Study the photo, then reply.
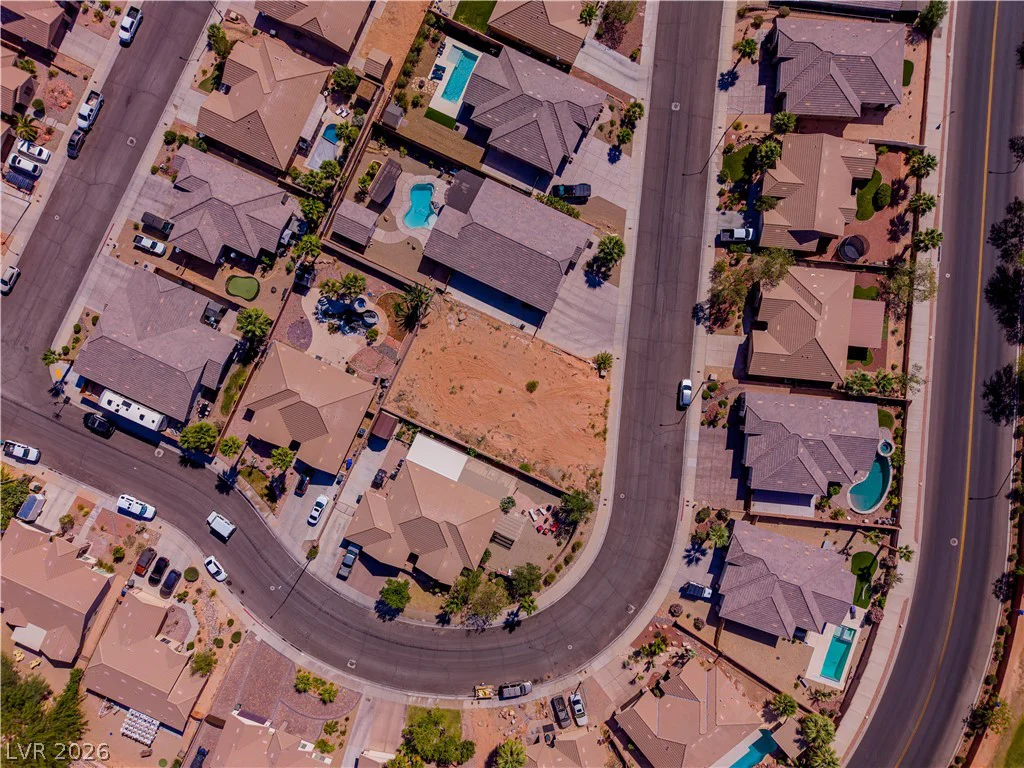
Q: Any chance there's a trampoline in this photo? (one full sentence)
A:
Yes, a trampoline appears in the view.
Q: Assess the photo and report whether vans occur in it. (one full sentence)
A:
Yes, this view includes a van.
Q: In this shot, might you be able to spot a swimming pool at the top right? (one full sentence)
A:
No, no swimming pool is visible at the top right.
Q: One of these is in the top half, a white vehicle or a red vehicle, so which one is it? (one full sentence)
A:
What appears in the top half is a white vehicle.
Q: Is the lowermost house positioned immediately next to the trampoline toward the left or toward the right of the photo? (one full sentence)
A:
The lowermost house positioned immediately next to the trampoline is on the right side of the image.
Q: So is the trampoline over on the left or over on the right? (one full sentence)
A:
The trampoline appears in the right half of the scene.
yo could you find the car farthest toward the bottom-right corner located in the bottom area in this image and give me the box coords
[683,582,713,599]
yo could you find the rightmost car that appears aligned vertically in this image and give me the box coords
[677,379,690,408]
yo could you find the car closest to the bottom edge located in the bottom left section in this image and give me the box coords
[189,746,209,768]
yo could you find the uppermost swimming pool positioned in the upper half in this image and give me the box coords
[439,42,481,106]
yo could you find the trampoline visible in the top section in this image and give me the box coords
[837,232,869,259]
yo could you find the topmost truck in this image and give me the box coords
[119,5,143,46]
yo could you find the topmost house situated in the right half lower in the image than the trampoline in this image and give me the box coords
[746,266,856,384]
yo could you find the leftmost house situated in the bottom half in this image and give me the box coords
[0,518,113,647]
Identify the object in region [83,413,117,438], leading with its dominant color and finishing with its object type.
black car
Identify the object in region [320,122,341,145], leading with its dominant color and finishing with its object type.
blue swimming pool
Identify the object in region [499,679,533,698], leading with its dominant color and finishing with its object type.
gray vehicle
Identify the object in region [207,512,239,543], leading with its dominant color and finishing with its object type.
white van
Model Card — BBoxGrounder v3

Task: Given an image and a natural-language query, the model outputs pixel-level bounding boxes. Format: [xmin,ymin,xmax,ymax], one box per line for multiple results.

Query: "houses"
[196,38,330,171]
[488,0,590,68]
[0,120,18,150]
[423,178,594,312]
[463,46,607,175]
[86,591,210,734]
[255,0,375,54]
[344,459,500,585]
[615,658,764,768]
[0,518,113,647]
[74,266,239,421]
[757,134,877,249]
[742,393,880,496]
[0,0,71,52]
[526,727,603,768]
[774,18,907,120]
[0,54,39,117]
[167,144,293,263]
[746,266,856,384]
[718,520,857,640]
[244,340,376,474]
[355,749,397,768]
[209,709,317,768]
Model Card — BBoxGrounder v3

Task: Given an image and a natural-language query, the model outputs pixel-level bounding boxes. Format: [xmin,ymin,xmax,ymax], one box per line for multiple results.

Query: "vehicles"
[66,129,89,160]
[0,264,24,294]
[551,182,590,198]
[207,512,239,543]
[369,467,389,492]
[335,543,360,580]
[83,413,117,438]
[138,210,173,234]
[306,494,330,527]
[204,555,228,582]
[16,140,52,163]
[550,694,571,729]
[78,89,105,131]
[8,153,44,178]
[0,438,43,463]
[677,379,690,408]
[119,5,143,46]
[158,568,184,599]
[189,746,209,768]
[132,234,166,254]
[133,547,157,575]
[718,227,754,242]
[569,693,589,727]
[499,679,533,698]
[114,493,158,520]
[149,557,171,585]
[293,471,311,498]
[683,582,713,599]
